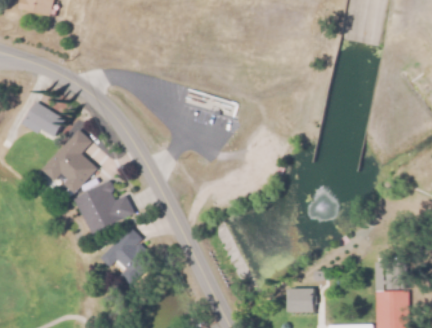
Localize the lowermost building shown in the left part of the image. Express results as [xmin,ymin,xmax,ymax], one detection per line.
[102,230,149,284]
